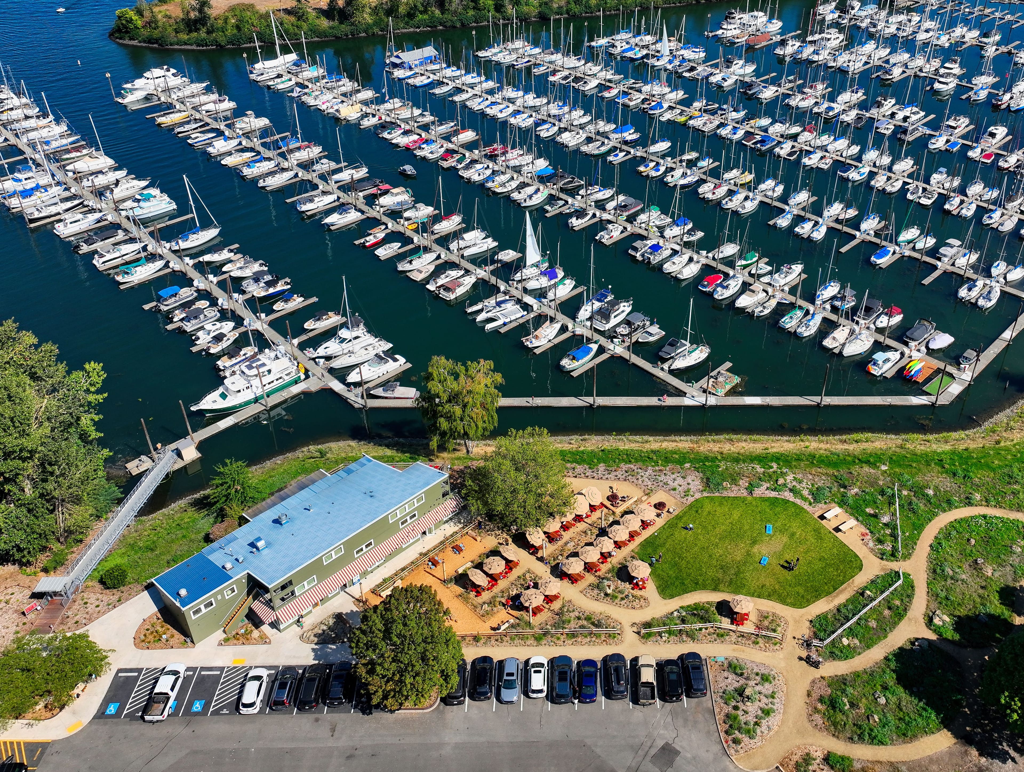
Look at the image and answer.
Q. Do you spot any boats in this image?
Yes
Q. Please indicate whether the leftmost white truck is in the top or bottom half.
bottom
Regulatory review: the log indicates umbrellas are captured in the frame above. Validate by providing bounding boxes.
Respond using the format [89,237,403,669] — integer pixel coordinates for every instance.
[636,508,657,530]
[595,540,616,562]
[499,548,521,571]
[467,573,489,596]
[521,592,544,616]
[629,565,651,588]
[484,559,506,583]
[607,528,628,543]
[619,518,640,540]
[561,560,583,583]
[526,532,546,554]
[578,549,600,572]
[542,520,563,535]
[582,492,602,513]
[540,580,562,605]
[570,501,591,522]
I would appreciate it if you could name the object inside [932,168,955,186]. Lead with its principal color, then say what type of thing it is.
white boat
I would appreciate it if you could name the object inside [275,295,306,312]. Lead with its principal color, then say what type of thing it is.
white boat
